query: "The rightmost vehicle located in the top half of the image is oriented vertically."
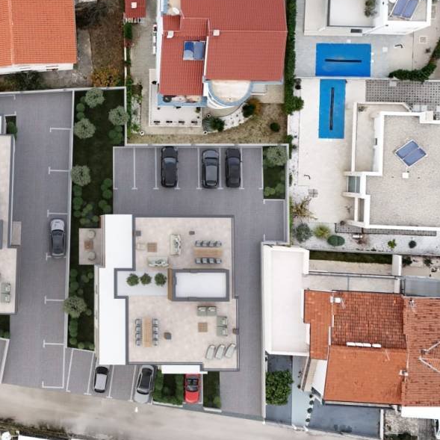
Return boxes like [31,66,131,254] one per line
[224,148,243,188]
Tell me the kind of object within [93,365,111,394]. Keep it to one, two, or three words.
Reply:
car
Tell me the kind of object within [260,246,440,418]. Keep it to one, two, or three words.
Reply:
house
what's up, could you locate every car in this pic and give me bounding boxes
[133,364,154,404]
[93,365,111,394]
[183,373,202,405]
[224,148,243,188]
[433,418,440,440]
[201,148,221,188]
[161,147,181,188]
[48,217,67,258]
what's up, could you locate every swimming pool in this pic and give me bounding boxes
[315,76,348,141]
[312,40,373,78]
